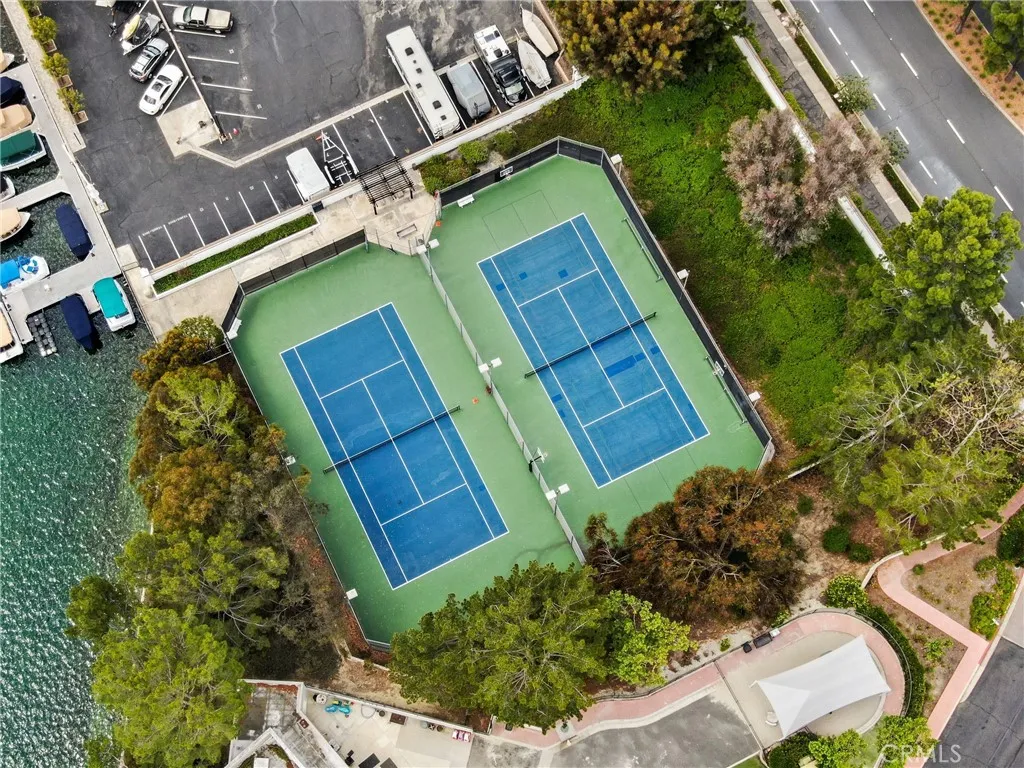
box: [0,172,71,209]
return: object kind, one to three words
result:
pier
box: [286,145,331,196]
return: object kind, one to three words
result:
trailer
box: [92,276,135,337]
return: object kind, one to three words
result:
boat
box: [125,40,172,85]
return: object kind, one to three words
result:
car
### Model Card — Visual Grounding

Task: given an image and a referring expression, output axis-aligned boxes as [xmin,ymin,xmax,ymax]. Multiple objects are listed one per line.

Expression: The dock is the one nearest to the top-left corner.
[0,61,28,85]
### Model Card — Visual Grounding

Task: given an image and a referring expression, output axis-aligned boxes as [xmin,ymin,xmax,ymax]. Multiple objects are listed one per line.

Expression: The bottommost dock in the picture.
[13,259,122,344]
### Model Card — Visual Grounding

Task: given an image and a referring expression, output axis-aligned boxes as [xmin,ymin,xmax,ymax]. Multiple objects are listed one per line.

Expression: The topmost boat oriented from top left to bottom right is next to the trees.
[515,0,558,58]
